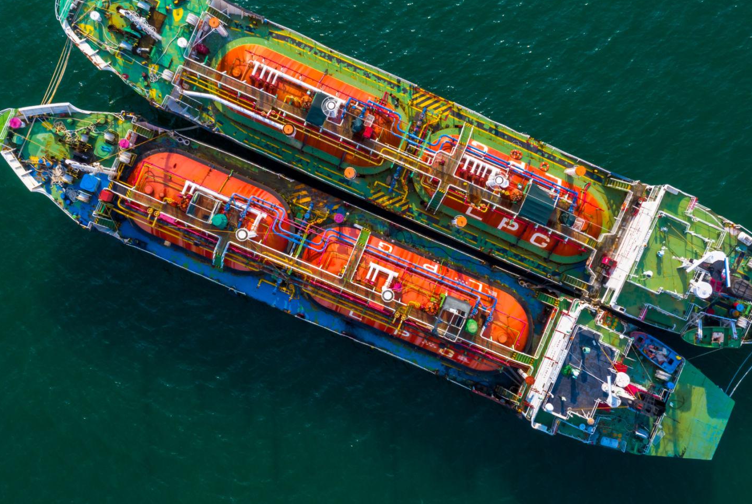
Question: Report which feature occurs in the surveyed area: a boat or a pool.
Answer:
boat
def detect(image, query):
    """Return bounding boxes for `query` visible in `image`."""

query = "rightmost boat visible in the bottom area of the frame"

[682,327,743,349]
